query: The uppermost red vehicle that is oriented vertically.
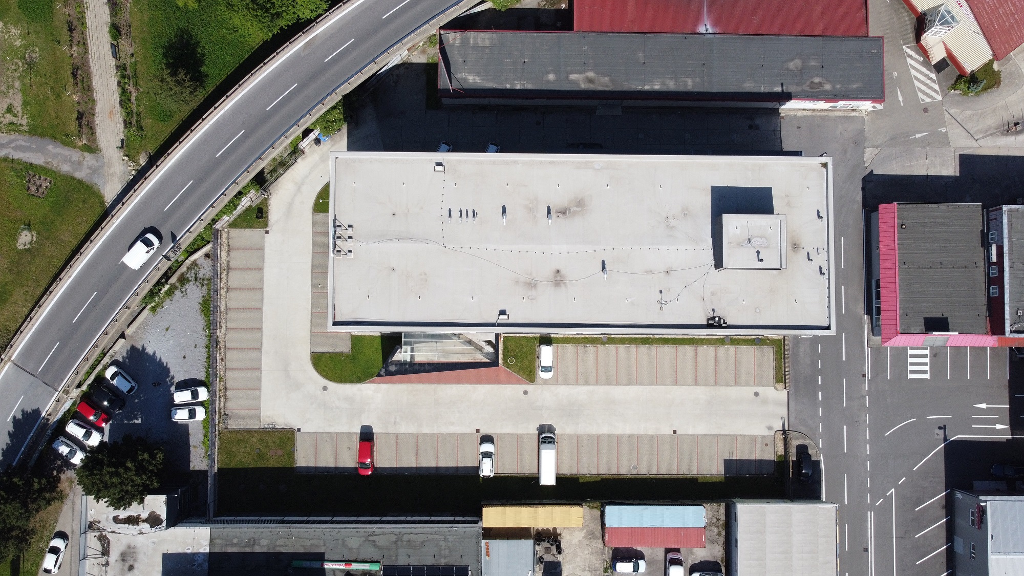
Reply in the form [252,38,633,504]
[357,440,374,475]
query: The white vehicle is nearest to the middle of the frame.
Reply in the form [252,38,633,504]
[538,344,555,379]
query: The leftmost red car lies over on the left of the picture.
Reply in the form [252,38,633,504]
[74,399,113,427]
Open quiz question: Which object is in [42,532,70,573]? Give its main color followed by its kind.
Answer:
white car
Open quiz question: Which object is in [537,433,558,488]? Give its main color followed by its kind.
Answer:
white truck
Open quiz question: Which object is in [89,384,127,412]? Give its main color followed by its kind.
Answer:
black car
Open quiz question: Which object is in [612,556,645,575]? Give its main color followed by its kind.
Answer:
white car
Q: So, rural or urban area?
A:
urban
